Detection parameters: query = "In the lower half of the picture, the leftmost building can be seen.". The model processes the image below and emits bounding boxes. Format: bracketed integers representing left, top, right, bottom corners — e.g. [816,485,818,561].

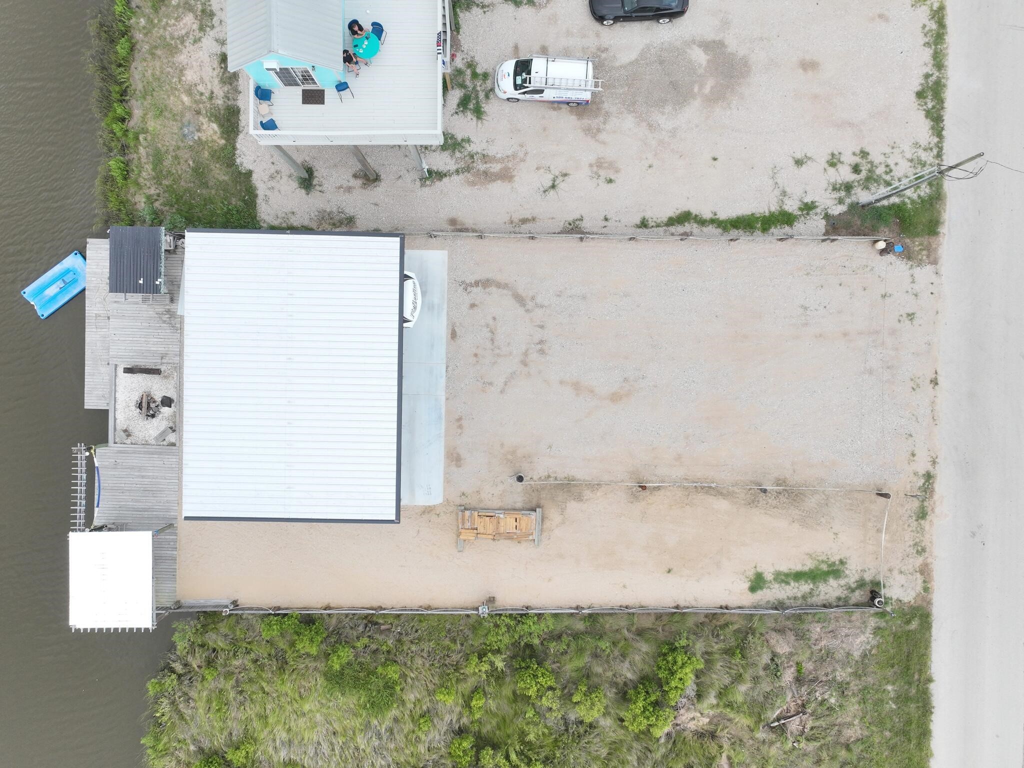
[69,529,158,632]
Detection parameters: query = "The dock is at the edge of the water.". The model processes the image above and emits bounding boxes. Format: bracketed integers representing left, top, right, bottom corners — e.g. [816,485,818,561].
[84,239,110,409]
